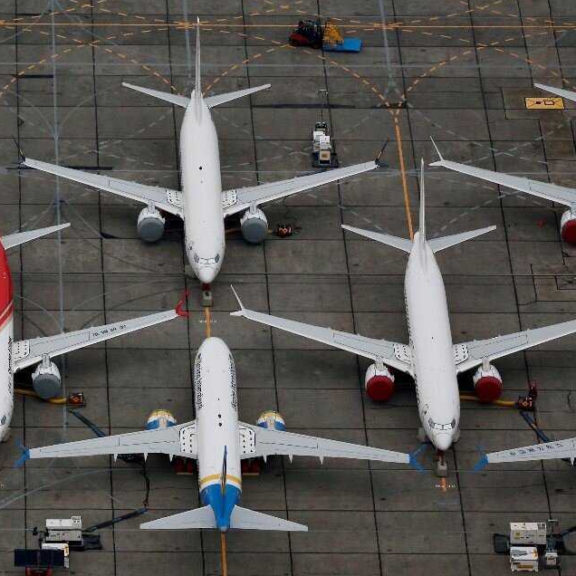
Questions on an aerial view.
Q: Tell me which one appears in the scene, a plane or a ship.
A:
plane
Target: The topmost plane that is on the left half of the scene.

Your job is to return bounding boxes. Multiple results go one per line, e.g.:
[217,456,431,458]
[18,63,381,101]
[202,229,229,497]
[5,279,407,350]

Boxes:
[11,15,389,296]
